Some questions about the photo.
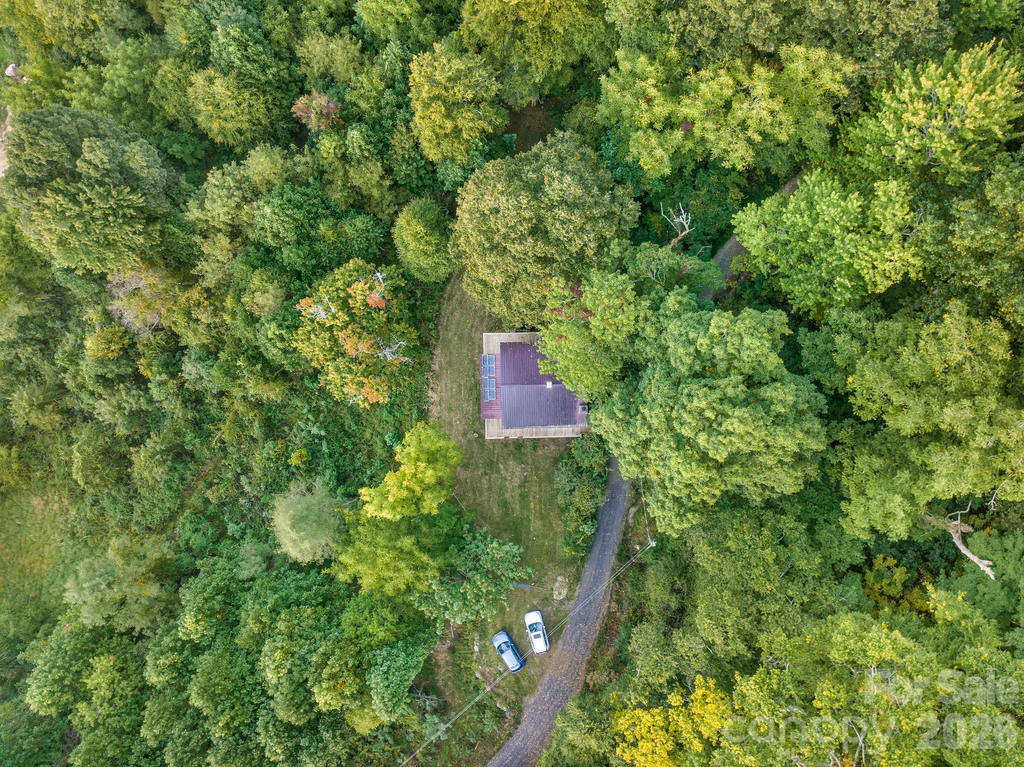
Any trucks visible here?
No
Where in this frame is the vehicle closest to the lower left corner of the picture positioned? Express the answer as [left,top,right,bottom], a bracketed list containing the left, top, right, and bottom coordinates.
[492,627,526,675]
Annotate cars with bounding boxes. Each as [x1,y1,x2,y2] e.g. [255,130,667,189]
[525,607,550,658]
[492,627,526,675]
